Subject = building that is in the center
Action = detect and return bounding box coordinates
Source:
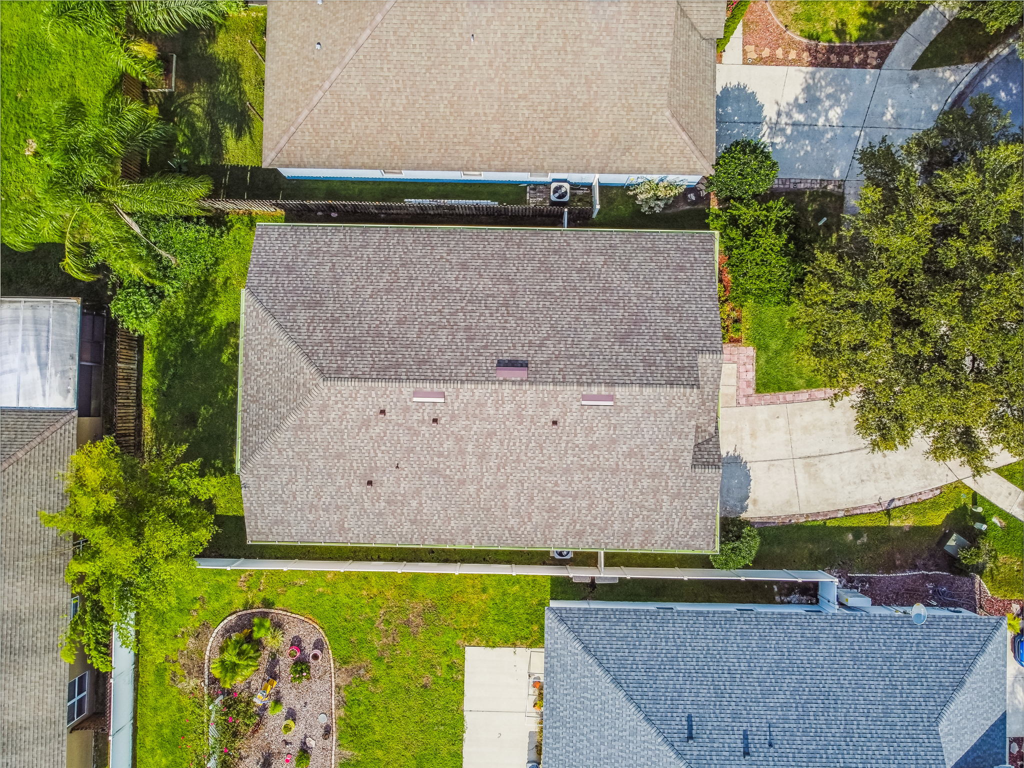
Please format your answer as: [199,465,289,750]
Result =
[236,222,723,553]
